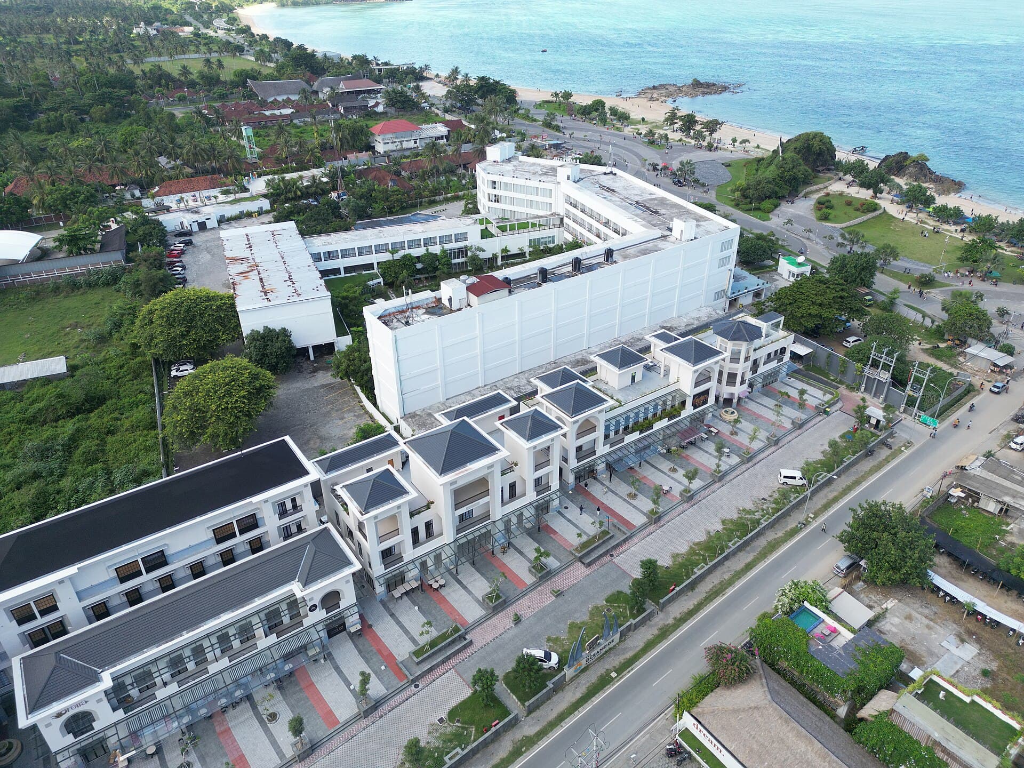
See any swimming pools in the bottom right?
Yes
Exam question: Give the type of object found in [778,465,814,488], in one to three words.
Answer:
vehicle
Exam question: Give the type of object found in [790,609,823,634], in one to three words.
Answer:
swimming pool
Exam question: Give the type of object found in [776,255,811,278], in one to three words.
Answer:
building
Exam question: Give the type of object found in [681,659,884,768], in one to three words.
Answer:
house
